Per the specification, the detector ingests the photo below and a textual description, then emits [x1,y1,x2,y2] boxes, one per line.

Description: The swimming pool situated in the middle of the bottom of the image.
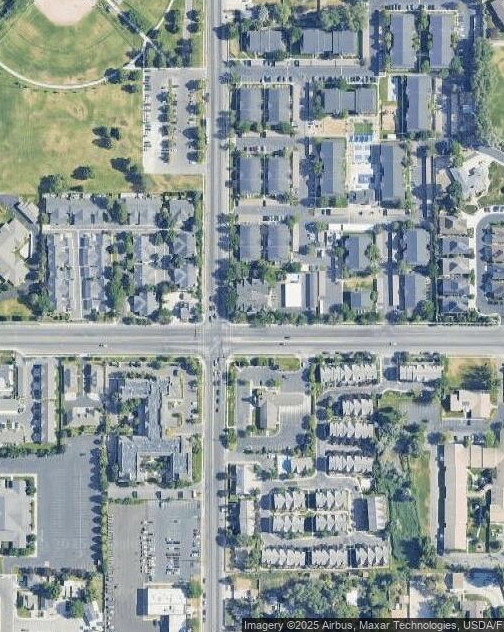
[278,457,291,473]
